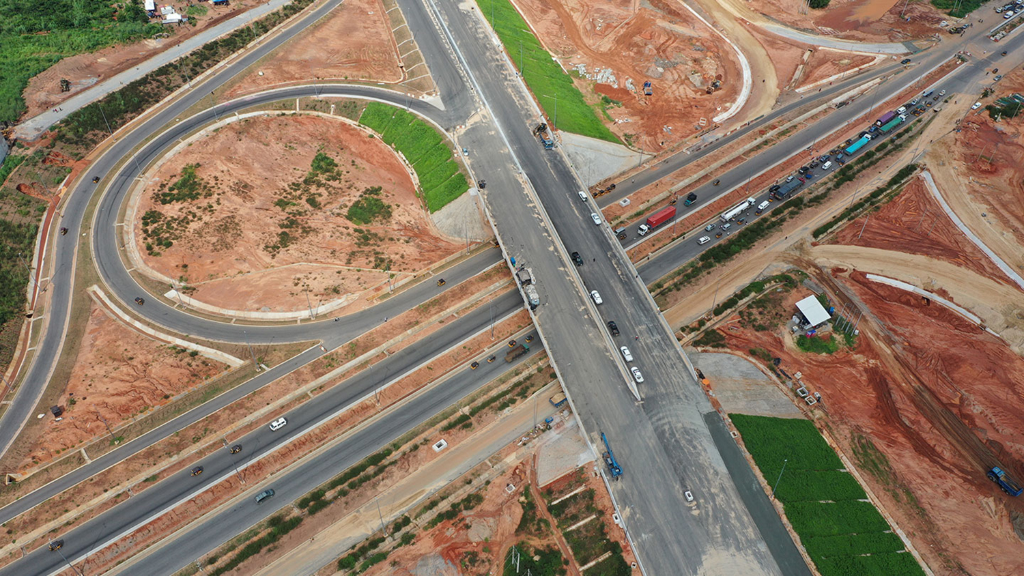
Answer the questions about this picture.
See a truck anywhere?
Yes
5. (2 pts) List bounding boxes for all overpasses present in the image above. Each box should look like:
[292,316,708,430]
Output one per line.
[429,0,699,576]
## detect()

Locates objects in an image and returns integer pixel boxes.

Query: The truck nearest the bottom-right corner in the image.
[985,464,1024,497]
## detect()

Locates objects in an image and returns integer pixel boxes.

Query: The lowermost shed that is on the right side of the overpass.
[793,295,831,333]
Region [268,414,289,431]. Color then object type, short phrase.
white vehicle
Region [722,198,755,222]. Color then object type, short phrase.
white truck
